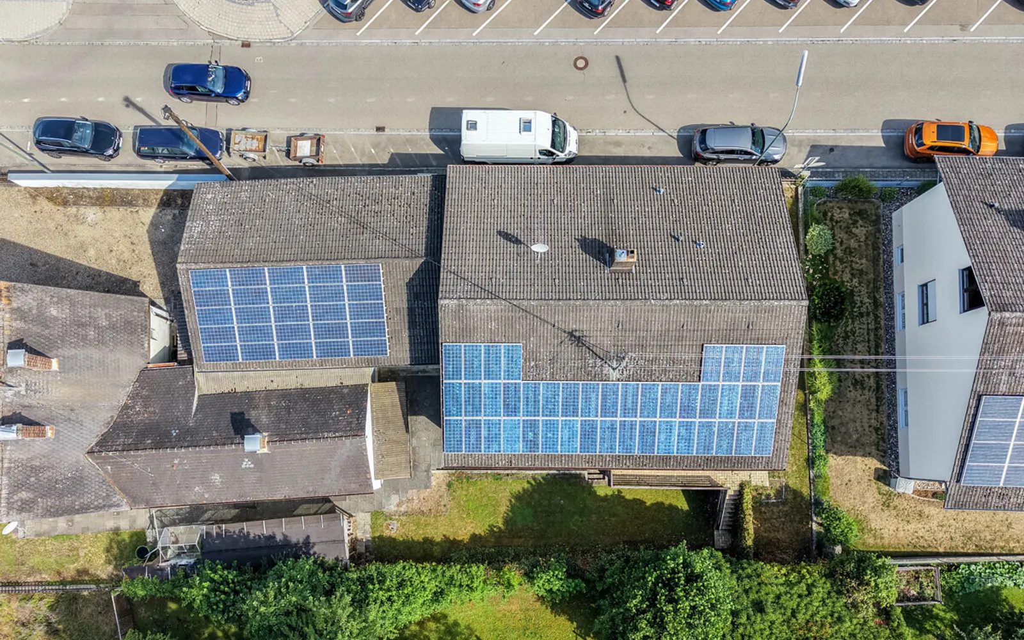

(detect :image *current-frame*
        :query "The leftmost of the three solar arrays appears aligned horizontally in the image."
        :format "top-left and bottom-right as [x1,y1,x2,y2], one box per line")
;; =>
[192,264,391,362]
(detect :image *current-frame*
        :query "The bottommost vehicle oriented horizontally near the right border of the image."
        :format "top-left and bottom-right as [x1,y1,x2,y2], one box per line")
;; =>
[903,118,995,161]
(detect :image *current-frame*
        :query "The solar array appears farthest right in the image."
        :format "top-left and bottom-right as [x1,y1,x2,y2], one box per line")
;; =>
[961,392,1024,484]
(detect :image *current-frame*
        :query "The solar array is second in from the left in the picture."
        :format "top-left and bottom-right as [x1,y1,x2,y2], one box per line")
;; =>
[442,347,784,455]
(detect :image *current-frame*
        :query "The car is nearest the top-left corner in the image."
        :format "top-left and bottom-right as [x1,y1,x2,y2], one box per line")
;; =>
[30,117,127,163]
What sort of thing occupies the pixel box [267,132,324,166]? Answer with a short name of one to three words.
trailer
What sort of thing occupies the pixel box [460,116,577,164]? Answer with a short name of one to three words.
van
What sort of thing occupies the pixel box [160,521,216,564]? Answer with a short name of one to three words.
greenhouse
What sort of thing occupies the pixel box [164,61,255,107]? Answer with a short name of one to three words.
car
